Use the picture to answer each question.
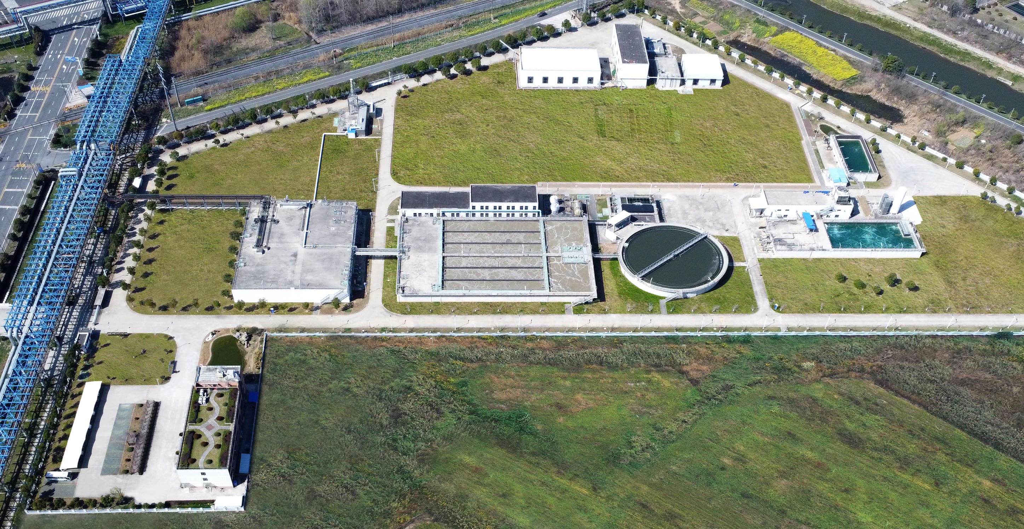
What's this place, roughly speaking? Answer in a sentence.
This image shows an industrial area.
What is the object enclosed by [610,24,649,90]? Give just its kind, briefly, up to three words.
building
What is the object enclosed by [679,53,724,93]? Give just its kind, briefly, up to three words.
building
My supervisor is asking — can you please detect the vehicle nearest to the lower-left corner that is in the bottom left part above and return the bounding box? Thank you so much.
[42,470,76,484]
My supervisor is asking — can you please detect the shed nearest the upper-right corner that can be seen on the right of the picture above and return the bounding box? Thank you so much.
[828,168,848,188]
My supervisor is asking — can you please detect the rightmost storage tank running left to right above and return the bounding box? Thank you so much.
[765,217,924,260]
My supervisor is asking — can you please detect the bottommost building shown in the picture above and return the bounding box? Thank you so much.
[214,496,243,508]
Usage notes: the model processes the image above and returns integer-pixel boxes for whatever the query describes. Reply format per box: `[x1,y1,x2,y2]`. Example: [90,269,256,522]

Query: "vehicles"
[537,10,548,16]
[42,470,76,484]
